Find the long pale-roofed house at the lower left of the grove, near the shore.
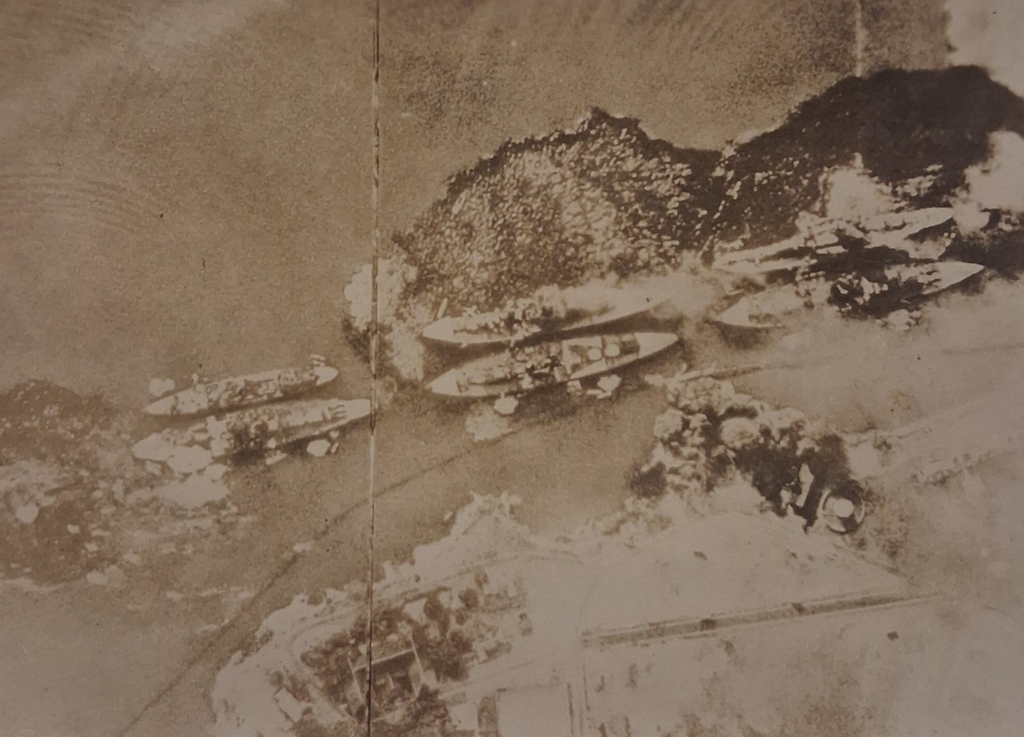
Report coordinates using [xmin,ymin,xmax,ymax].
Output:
[275,685,309,721]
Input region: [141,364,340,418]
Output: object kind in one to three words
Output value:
ship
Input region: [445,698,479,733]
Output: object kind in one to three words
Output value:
building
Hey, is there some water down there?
Yes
